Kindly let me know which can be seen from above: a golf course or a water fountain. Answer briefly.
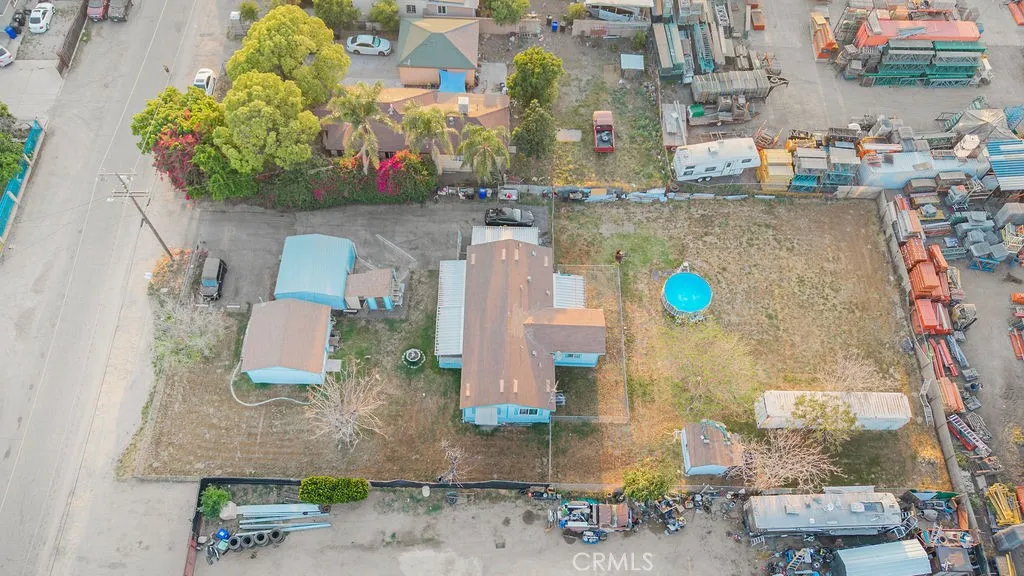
water fountain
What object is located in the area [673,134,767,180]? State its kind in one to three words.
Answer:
trailer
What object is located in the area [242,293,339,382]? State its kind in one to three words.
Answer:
building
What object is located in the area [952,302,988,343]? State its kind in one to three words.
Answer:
work vehicle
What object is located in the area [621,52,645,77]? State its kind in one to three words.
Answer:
shed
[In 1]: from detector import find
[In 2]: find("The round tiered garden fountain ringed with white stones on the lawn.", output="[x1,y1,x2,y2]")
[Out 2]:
[400,349,428,375]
